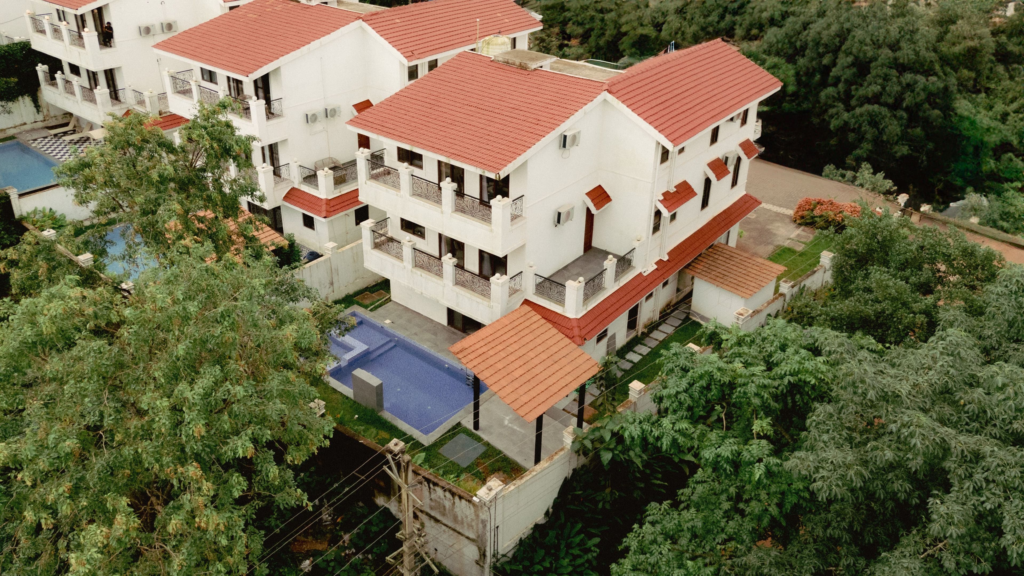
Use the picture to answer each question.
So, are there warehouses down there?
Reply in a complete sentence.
No, there's no warehouse here.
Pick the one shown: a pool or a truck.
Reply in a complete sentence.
It is a pool that can be seen here.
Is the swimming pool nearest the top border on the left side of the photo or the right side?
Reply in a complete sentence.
It is on the left.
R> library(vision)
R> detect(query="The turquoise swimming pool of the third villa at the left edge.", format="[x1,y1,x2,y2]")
[0,136,81,207]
